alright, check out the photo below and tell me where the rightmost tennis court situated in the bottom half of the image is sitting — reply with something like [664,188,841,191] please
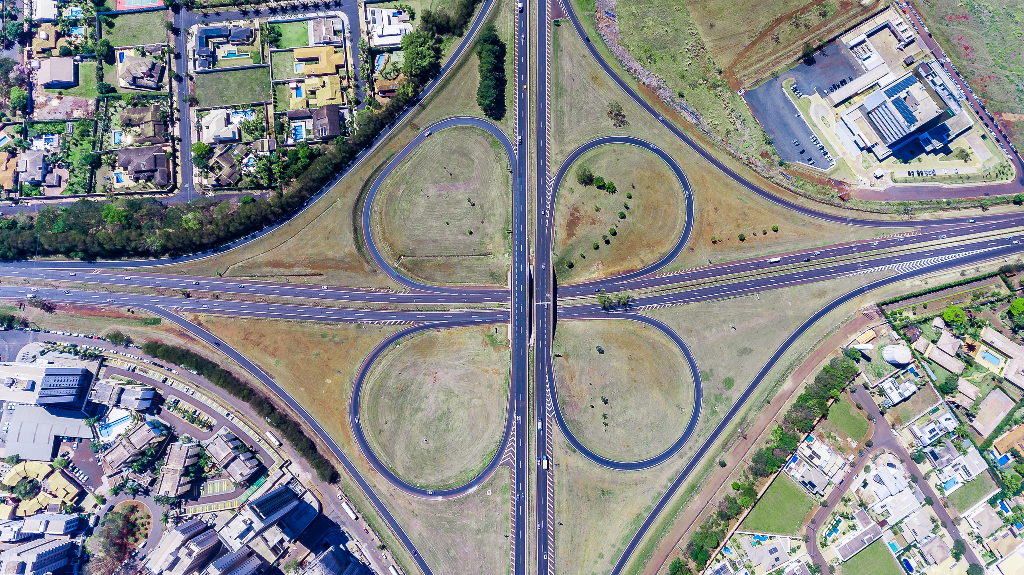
[967,389,1015,439]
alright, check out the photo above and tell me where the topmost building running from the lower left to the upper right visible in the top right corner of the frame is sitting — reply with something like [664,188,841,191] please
[836,6,897,48]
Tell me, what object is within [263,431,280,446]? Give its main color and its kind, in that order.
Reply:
white vehicle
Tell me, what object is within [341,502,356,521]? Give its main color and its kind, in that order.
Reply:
white vehicle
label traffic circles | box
[90,487,164,574]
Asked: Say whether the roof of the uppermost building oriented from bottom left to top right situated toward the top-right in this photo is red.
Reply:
No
